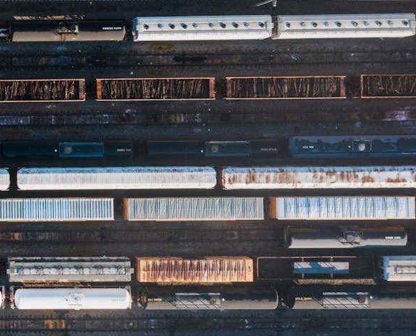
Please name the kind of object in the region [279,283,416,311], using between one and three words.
rail car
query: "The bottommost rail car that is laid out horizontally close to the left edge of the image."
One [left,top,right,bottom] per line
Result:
[8,284,135,312]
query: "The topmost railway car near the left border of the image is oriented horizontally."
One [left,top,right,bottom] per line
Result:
[3,17,128,44]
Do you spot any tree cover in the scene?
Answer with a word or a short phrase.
No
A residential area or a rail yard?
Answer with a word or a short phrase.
rail yard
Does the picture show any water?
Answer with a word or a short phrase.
No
